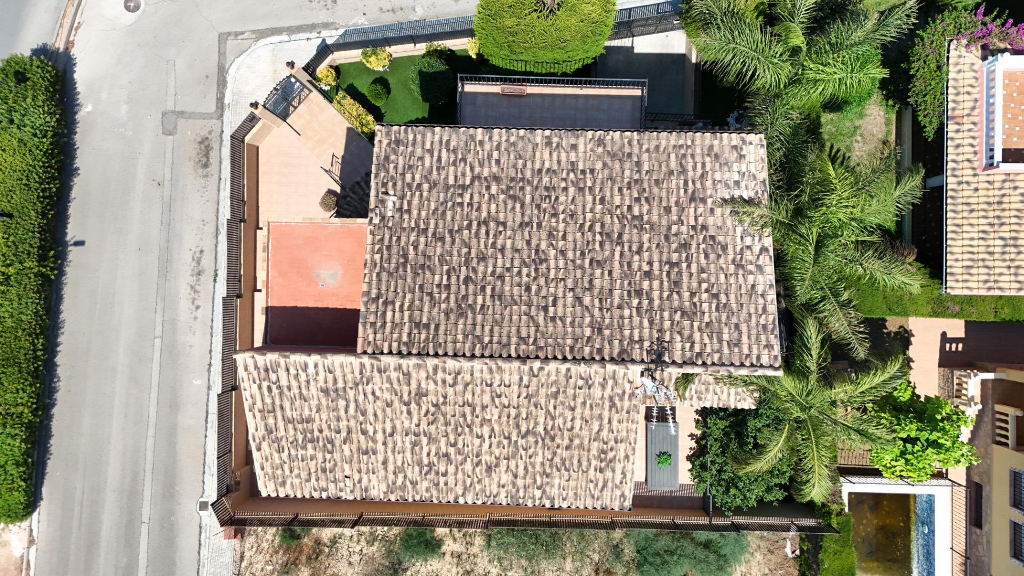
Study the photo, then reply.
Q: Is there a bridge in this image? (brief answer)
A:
No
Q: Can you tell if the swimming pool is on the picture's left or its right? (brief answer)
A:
right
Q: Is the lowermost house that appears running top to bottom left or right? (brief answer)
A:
right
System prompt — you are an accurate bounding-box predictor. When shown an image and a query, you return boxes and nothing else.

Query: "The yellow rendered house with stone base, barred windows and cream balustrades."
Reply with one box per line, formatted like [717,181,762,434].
[936,366,1024,576]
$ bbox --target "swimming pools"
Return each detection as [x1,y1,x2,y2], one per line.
[841,473,953,576]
